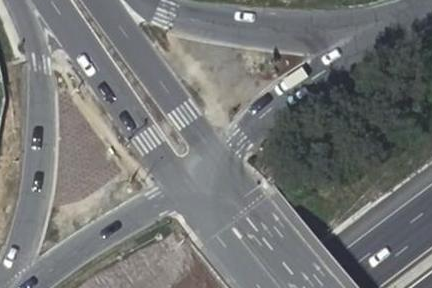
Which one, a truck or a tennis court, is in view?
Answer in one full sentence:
Looking from above, you can make out a truck.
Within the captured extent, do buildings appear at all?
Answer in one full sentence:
No, the picture doesn't show any building.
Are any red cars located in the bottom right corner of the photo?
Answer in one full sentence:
No, no red car appears in the bottom right corner of the photo.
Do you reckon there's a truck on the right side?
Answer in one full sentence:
Yes, you'll find a truck on the right side.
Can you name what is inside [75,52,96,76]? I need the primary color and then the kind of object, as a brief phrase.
white car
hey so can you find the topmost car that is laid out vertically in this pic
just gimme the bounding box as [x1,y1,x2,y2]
[30,124,42,149]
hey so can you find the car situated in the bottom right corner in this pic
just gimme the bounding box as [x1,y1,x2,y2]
[369,246,392,266]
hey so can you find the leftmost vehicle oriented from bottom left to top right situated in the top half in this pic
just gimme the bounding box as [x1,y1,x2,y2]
[249,92,273,114]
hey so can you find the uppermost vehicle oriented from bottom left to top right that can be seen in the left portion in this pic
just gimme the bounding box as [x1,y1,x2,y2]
[99,218,122,238]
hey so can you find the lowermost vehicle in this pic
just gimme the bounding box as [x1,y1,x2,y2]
[16,274,39,288]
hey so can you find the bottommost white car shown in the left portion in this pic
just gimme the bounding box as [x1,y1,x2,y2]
[2,244,19,267]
